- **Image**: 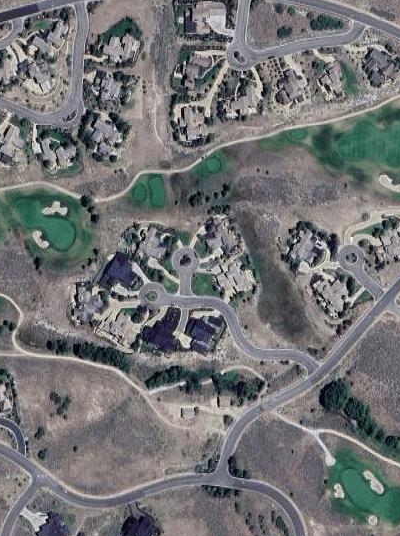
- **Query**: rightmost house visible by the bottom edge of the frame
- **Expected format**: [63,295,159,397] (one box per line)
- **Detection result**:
[122,515,158,536]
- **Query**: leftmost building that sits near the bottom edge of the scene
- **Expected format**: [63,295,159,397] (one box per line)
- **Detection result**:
[34,513,70,536]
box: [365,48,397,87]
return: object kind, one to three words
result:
house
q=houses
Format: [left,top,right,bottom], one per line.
[180,107,210,143]
[104,34,141,66]
[275,69,307,105]
[122,515,158,536]
[102,312,138,350]
[185,315,223,353]
[144,309,180,350]
[365,48,397,87]
[34,513,70,536]
[140,229,167,262]
[98,253,138,290]
[89,119,123,156]
[292,229,320,262]
[213,260,251,301]
[41,20,68,44]
[320,62,348,97]
[31,36,54,58]
[17,58,53,92]
[180,52,211,91]
[0,60,12,80]
[377,224,400,259]
[202,219,237,254]
[182,0,225,32]
[0,378,12,411]
[0,125,25,165]
[41,140,79,169]
[76,288,105,322]
[95,70,121,103]
[313,277,349,312]
[221,81,260,117]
